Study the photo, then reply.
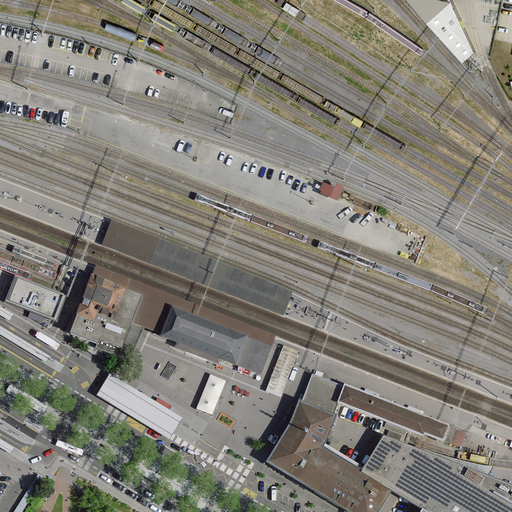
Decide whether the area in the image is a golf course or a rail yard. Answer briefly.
rail yard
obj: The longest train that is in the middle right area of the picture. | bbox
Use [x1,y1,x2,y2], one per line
[312,239,489,314]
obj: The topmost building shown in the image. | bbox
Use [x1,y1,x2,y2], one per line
[408,0,477,70]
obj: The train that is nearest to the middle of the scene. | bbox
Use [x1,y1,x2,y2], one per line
[194,194,310,243]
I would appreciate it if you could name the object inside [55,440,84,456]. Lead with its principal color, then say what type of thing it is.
white vehicle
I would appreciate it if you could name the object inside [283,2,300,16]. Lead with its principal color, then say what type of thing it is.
white rail car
